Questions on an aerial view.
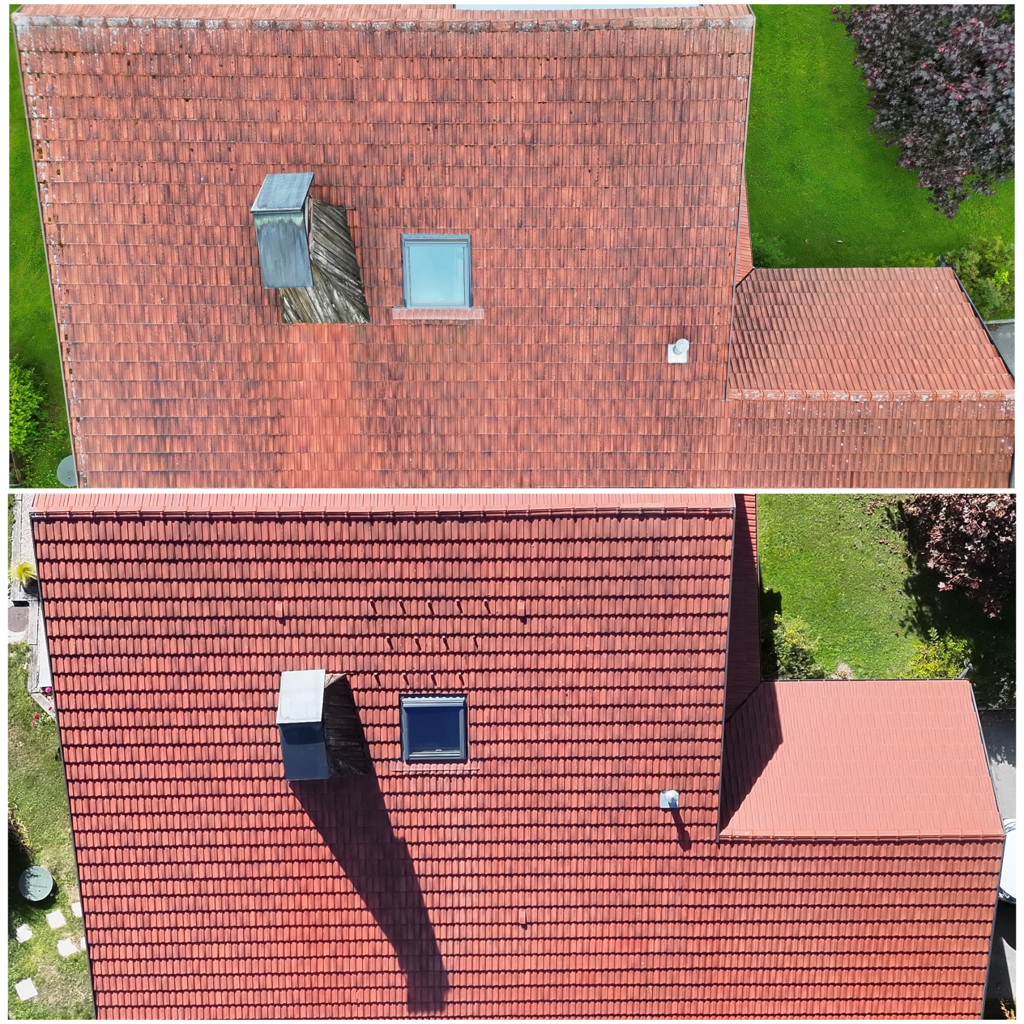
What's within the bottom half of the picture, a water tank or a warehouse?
water tank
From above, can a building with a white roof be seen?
No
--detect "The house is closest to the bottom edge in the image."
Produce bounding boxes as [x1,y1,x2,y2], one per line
[28,494,1015,1024]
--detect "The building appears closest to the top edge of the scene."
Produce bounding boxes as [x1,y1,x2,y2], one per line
[9,0,1024,499]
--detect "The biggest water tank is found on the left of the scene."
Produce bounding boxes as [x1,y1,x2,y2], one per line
[19,866,61,904]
